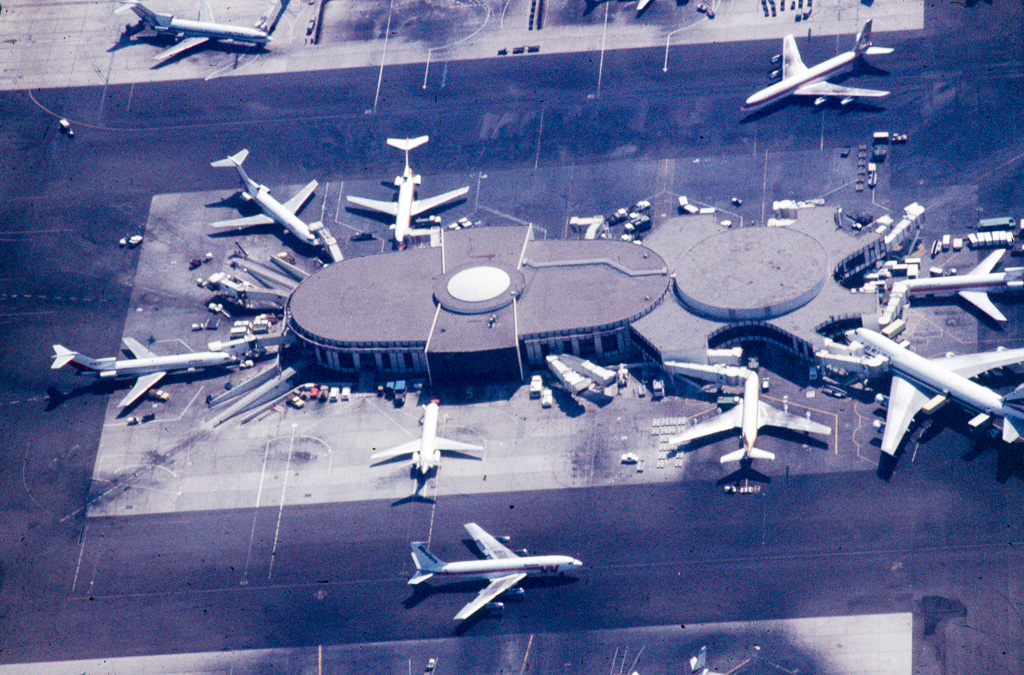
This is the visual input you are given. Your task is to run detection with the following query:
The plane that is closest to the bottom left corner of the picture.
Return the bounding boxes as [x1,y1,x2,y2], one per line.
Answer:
[49,335,235,408]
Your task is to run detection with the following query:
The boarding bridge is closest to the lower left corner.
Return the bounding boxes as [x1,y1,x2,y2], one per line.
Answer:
[204,330,290,363]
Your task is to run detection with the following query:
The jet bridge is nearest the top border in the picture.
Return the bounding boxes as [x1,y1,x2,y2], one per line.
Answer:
[259,0,286,33]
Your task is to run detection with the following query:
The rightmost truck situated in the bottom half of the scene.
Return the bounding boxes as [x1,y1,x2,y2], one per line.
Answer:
[962,416,995,448]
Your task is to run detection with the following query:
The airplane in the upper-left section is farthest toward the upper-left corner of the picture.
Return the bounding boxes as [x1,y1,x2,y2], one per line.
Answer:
[110,0,272,59]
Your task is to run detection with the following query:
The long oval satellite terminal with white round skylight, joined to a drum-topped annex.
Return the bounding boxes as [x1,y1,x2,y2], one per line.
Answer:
[282,206,895,391]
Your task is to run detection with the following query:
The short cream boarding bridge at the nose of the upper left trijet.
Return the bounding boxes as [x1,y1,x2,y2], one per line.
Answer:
[309,221,344,263]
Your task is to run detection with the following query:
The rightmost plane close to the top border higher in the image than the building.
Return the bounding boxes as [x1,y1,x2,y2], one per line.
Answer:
[743,20,897,117]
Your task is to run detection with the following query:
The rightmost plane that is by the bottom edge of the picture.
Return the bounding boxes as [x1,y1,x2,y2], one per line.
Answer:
[682,644,739,675]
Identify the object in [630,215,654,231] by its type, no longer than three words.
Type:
vehicle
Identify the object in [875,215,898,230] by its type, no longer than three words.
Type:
jet bridge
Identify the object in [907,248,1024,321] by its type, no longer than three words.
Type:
airplane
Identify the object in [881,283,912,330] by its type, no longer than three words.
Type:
jet bridge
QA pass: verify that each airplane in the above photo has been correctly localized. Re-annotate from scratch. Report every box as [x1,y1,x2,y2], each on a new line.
[49,335,235,408]
[743,20,897,117]
[346,137,470,248]
[406,522,583,622]
[845,326,1024,460]
[209,151,318,245]
[670,374,834,468]
[907,248,1024,321]
[682,644,739,675]
[372,400,485,475]
[110,0,272,59]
